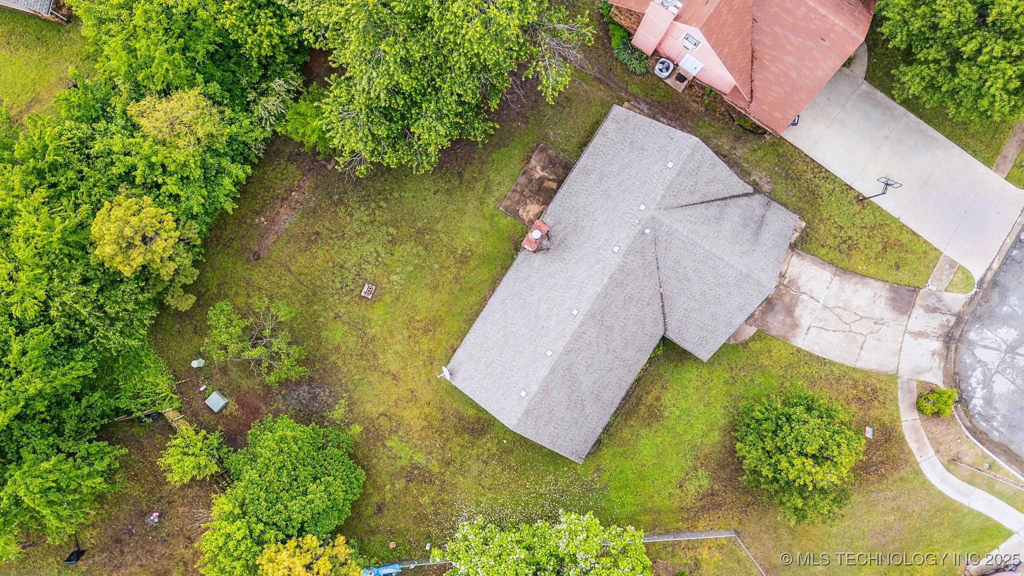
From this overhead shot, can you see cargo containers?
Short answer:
No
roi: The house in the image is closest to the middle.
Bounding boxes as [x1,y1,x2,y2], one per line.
[445,105,799,463]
